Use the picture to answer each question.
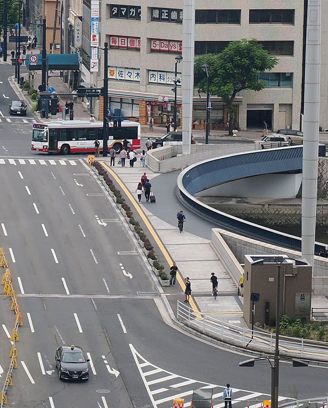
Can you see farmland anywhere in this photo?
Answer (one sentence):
No, there is no farmland in the image.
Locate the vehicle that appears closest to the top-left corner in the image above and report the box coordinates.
[6,100,28,117]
